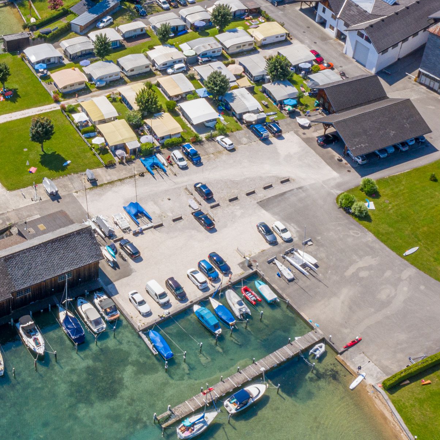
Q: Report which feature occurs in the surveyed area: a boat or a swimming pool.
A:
boat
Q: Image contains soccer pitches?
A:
No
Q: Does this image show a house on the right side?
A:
Yes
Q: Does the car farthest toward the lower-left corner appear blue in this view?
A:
No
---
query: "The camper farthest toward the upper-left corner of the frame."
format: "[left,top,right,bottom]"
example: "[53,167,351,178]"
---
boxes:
[24,44,61,64]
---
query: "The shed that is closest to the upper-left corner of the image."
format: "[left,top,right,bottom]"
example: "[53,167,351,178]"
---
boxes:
[3,32,30,52]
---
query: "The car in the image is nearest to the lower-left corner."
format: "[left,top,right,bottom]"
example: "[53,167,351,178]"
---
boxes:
[126,291,152,316]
